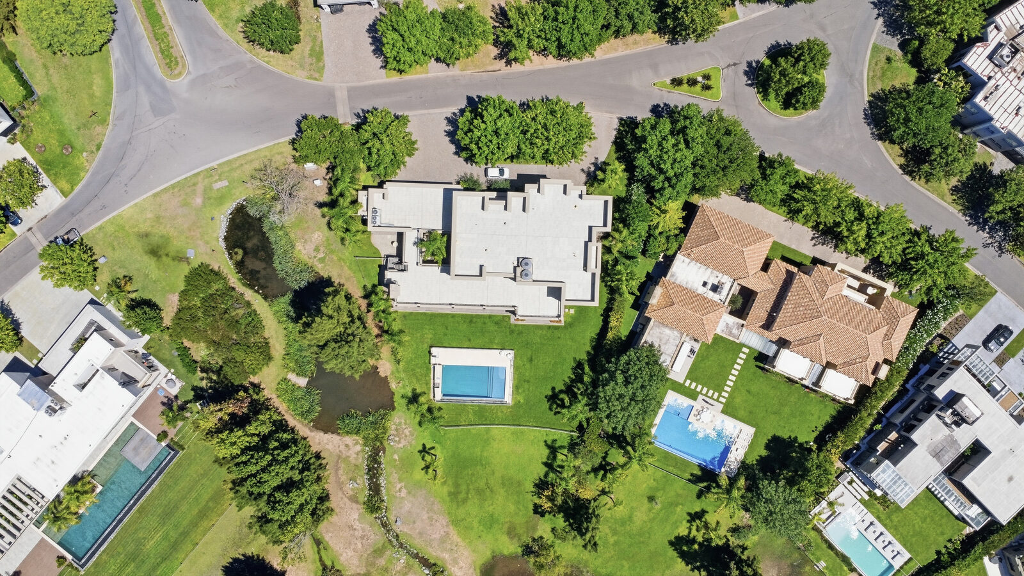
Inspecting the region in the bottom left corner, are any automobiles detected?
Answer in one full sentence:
No, there's no automobile to be seen in the bottom left corner.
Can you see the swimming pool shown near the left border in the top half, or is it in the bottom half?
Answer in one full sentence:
The swimming pool shown near the left border is in the bottom half of the image.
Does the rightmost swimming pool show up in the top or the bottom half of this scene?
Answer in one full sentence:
You can find the rightmost swimming pool in the bottom half.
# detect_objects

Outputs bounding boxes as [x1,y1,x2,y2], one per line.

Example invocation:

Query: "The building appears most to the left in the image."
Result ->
[0,93,31,157]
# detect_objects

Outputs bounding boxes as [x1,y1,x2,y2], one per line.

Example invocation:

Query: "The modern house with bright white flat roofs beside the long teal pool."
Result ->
[0,304,162,564]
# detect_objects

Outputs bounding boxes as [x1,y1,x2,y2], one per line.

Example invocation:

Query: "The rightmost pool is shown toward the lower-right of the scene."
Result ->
[814,486,912,576]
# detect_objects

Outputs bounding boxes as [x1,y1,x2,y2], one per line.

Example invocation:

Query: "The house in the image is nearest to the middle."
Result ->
[359,179,612,322]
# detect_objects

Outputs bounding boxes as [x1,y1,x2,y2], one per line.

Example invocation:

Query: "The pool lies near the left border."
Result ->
[39,418,177,569]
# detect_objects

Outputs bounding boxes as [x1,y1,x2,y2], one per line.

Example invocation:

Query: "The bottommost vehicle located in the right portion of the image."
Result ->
[983,324,1012,351]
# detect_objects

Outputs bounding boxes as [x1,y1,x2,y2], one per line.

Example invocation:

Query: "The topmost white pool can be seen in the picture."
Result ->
[431,348,514,405]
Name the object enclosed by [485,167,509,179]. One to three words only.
vehicle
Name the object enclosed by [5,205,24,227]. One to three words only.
car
